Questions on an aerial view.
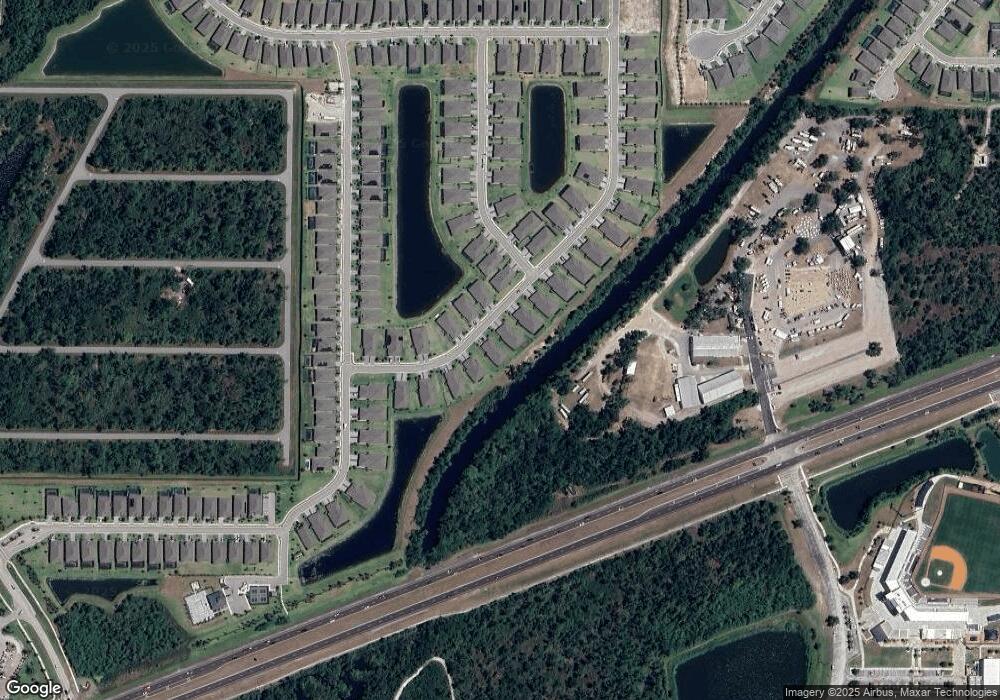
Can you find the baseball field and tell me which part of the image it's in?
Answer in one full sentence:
Look in the bottom right portion of the view to spot the baseball field.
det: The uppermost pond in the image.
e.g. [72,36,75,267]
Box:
[45,0,222,75]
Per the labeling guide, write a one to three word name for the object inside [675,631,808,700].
pond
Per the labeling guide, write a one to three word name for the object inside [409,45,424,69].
house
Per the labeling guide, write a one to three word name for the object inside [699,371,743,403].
building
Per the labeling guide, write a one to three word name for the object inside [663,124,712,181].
pond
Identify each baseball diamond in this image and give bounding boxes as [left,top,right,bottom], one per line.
[912,484,1000,598]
